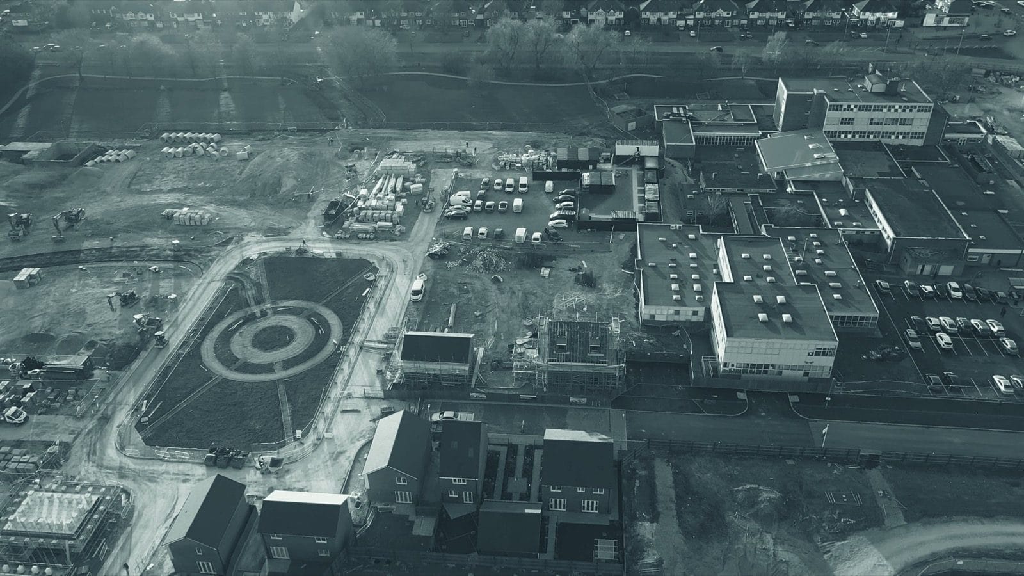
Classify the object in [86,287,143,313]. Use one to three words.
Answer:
work vehicle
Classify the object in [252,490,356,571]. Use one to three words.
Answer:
house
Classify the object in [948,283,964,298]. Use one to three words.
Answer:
car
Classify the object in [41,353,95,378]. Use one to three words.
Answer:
building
